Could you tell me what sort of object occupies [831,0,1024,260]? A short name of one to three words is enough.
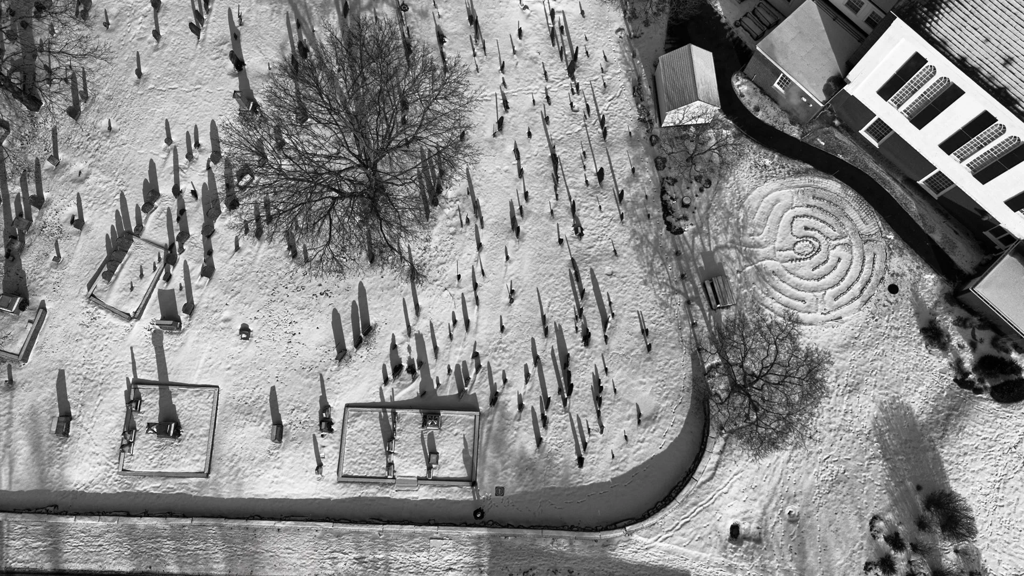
church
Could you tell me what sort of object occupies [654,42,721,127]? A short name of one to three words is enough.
shed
